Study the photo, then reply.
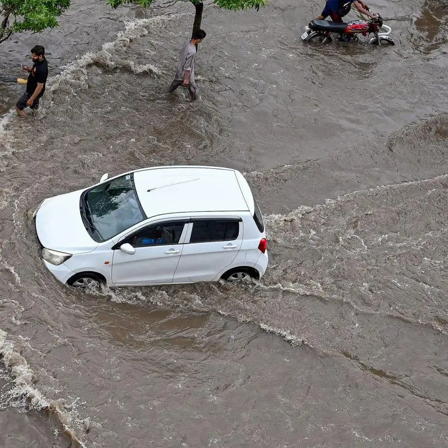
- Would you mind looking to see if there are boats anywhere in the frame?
No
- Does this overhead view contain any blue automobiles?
No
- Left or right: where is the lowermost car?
left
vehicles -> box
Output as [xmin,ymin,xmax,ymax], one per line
[301,0,401,48]
[35,163,269,283]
